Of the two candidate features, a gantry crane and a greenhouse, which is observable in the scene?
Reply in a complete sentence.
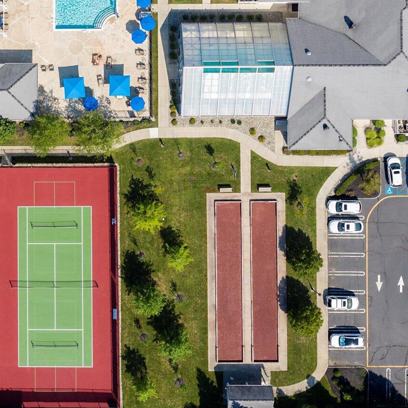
Of the two, only a greenhouse appears.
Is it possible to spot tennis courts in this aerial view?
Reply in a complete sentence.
Yes, this view includes a tennis court.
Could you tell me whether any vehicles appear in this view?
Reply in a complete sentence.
Yes, this view includes a vehicle.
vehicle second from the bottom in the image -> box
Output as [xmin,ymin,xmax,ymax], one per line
[326,295,358,311]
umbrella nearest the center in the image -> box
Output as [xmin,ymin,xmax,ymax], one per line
[129,96,144,111]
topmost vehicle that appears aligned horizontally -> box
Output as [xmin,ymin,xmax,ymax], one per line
[327,199,361,216]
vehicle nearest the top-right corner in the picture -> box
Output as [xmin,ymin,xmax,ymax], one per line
[387,157,404,187]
